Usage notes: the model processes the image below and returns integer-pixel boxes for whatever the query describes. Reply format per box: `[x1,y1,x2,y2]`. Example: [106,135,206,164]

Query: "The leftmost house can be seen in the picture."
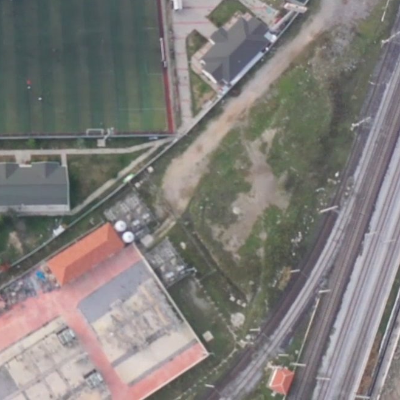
[0,162,70,214]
